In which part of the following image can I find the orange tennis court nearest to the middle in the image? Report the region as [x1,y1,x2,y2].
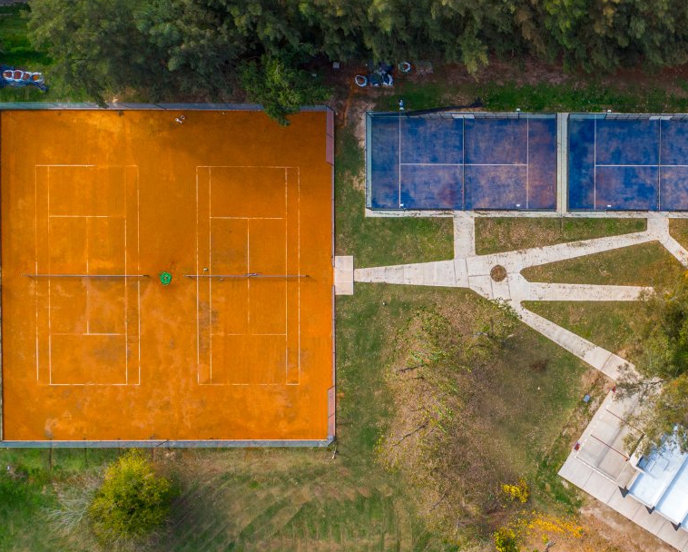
[168,109,333,440]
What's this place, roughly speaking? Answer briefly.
sports ground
